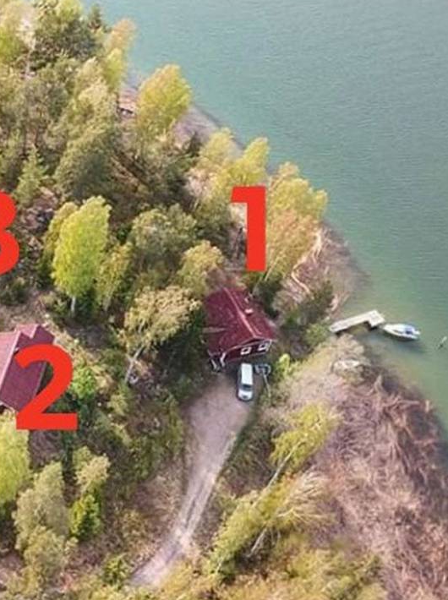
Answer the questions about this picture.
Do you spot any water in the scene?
Yes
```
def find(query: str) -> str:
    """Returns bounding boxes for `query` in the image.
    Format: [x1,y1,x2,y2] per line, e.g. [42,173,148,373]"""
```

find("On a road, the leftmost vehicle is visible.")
[237,363,257,401]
